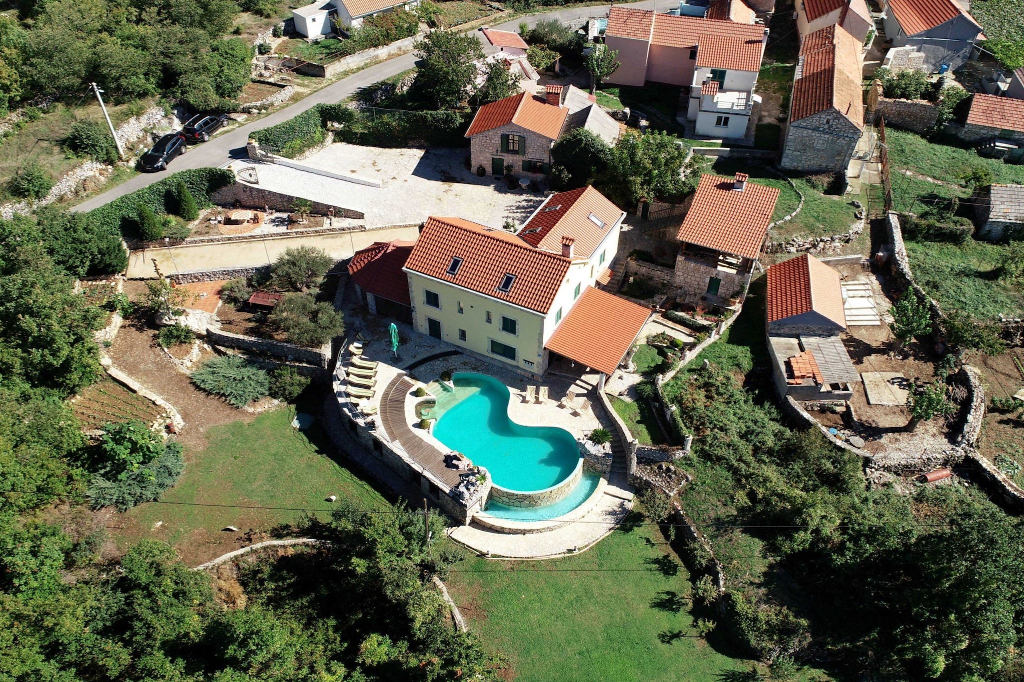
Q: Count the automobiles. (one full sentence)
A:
My tally gives 2 automobiles in this view.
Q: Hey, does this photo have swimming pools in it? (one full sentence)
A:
Yes, the picture does show a swimming pool.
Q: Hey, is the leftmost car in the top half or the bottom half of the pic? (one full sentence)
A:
The top half of the photo is where the leftmost car is.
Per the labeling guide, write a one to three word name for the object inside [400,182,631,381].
house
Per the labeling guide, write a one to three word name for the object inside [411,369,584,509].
swimming pool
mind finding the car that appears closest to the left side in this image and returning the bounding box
[139,129,188,170]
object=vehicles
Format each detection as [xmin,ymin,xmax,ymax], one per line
[139,129,188,170]
[180,108,231,141]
